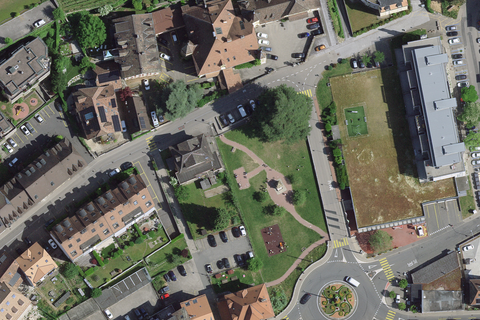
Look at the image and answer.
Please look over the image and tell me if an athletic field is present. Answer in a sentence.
Yes, you can see an athletic field in this photo.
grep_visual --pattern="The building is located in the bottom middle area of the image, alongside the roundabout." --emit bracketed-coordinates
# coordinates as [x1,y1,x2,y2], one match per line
[217,284,274,320]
